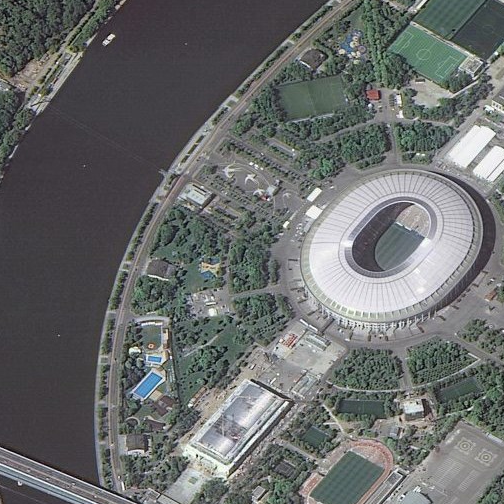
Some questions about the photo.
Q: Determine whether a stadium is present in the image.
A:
Yes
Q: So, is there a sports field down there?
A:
Yes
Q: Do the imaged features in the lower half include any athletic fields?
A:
Yes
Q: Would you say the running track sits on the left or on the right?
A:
right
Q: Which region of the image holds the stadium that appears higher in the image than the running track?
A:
right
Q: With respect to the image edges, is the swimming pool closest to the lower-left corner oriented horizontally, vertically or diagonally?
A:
diagonally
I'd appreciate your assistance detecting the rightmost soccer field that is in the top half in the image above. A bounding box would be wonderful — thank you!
[452,0,504,59]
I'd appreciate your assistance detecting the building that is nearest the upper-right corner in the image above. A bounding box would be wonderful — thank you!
[459,56,484,76]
